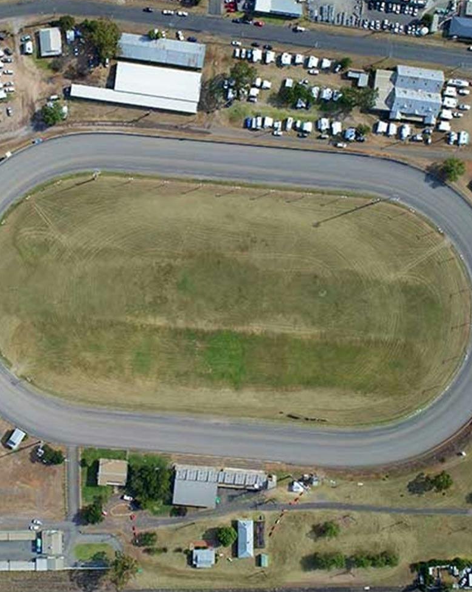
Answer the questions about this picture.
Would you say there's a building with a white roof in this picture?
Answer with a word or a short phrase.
Yes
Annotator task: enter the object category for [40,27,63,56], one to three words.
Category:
shed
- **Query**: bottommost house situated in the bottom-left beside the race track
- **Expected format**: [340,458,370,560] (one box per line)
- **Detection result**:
[98,458,127,486]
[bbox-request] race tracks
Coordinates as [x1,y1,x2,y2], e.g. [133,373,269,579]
[0,132,472,468]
